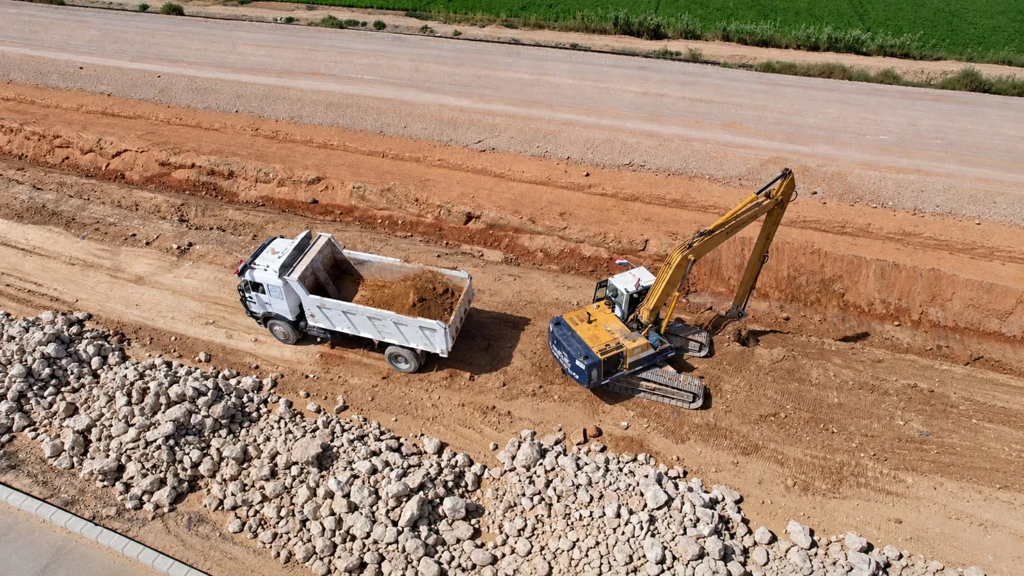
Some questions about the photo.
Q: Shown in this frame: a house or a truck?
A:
truck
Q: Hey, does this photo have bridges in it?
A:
No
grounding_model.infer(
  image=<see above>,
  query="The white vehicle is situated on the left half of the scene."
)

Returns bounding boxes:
[229,230,476,371]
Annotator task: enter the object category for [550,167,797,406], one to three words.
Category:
work vehicle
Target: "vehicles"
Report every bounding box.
[229,230,476,371]
[550,167,797,406]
